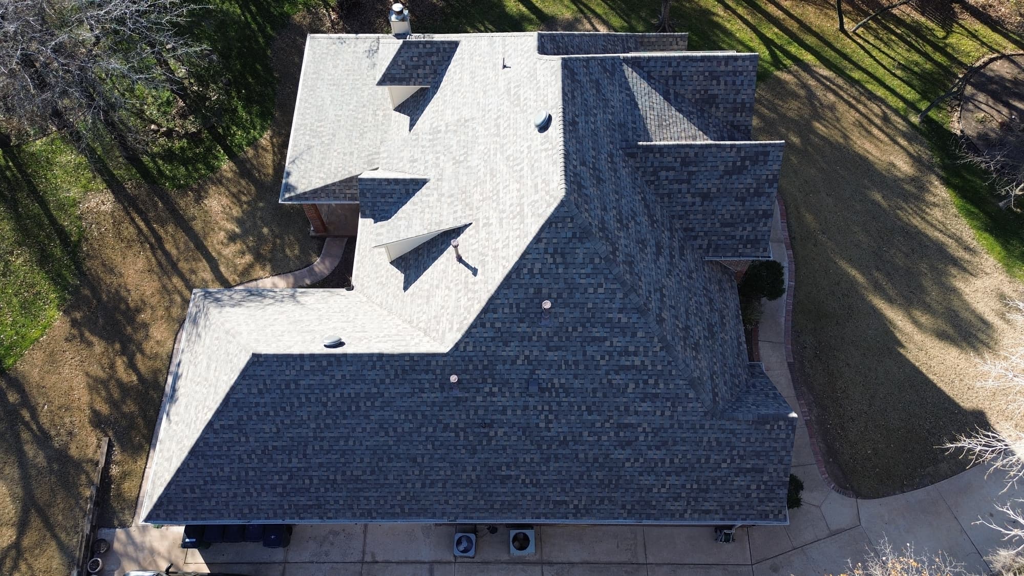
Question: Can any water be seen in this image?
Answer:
No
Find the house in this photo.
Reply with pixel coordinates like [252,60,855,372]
[136,0,798,528]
